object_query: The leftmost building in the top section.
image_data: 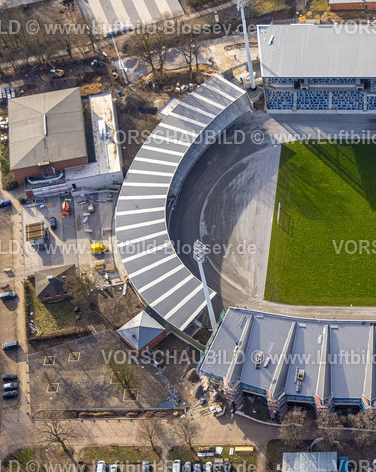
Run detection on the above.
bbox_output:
[5,88,89,181]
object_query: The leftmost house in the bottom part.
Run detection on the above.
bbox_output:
[34,265,75,303]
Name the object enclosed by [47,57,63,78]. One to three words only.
work vehicle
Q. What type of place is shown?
sports ground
